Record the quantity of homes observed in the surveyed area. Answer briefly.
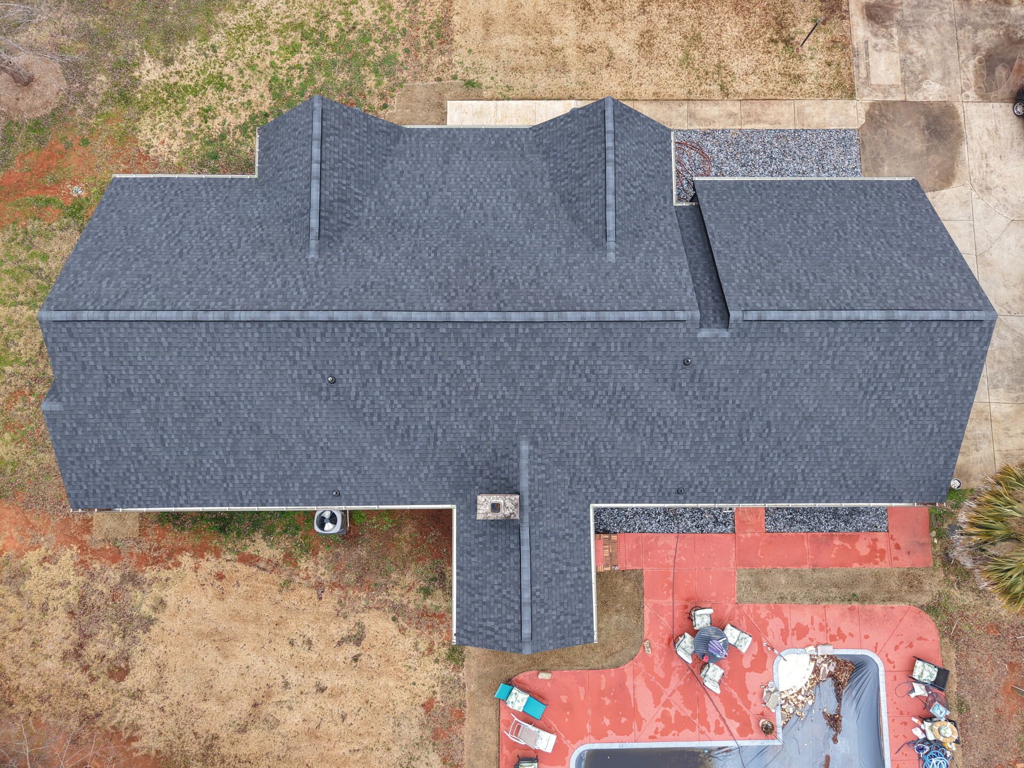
1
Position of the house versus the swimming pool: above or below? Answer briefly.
above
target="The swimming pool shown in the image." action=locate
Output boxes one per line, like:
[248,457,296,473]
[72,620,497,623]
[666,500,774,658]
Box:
[571,649,890,768]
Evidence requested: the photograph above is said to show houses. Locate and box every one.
[37,95,997,654]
